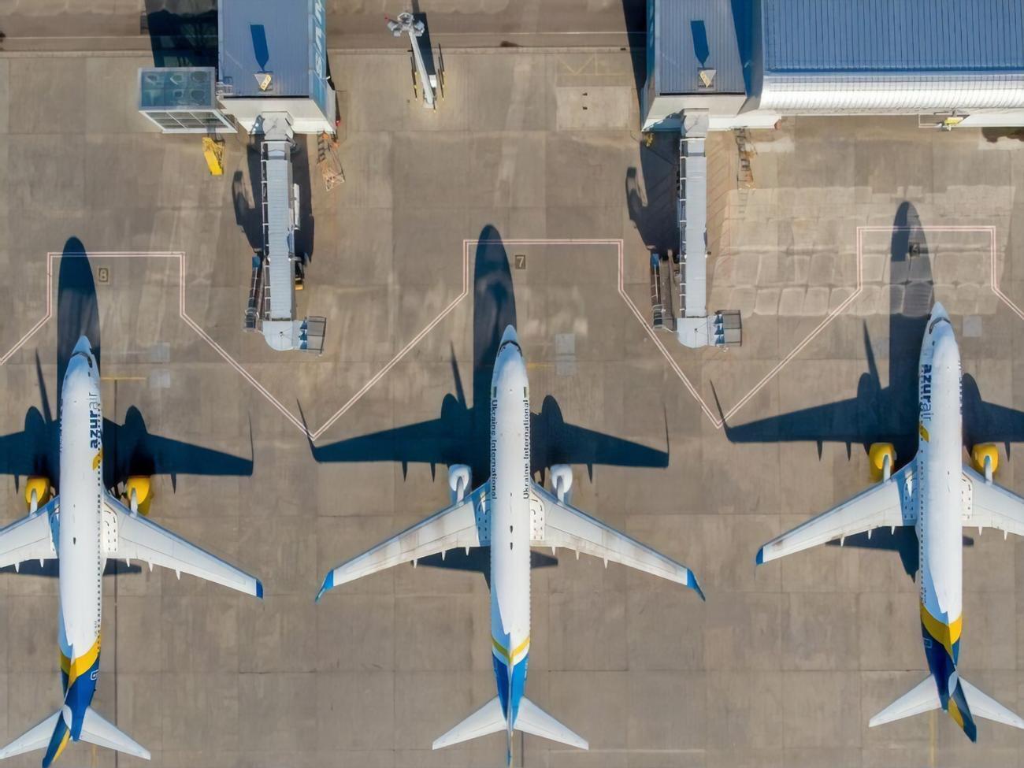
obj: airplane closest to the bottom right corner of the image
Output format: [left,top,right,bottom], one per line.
[757,302,1024,743]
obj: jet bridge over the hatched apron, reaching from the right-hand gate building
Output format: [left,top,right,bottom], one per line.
[648,110,743,349]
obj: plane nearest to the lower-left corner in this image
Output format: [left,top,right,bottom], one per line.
[0,336,266,768]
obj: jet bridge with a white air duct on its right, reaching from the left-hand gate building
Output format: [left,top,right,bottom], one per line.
[245,111,333,351]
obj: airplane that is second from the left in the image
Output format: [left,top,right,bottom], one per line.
[315,325,707,761]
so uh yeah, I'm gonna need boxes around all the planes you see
[757,302,1024,743]
[315,325,707,761]
[0,336,266,768]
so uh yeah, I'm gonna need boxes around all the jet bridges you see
[245,111,333,351]
[648,110,743,349]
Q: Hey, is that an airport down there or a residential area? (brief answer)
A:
airport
